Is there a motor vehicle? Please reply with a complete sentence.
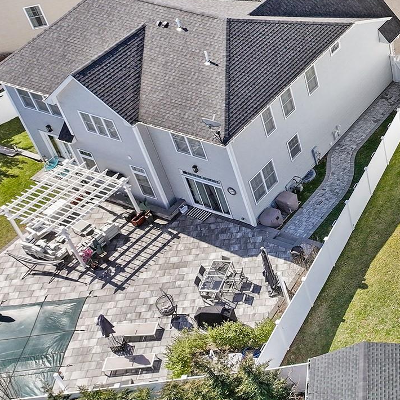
No, there is no motor vehicle in the image.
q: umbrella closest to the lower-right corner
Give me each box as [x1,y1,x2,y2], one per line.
[258,248,282,295]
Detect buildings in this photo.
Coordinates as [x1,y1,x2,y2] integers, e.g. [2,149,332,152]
[0,0,400,225]
[305,330,400,400]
